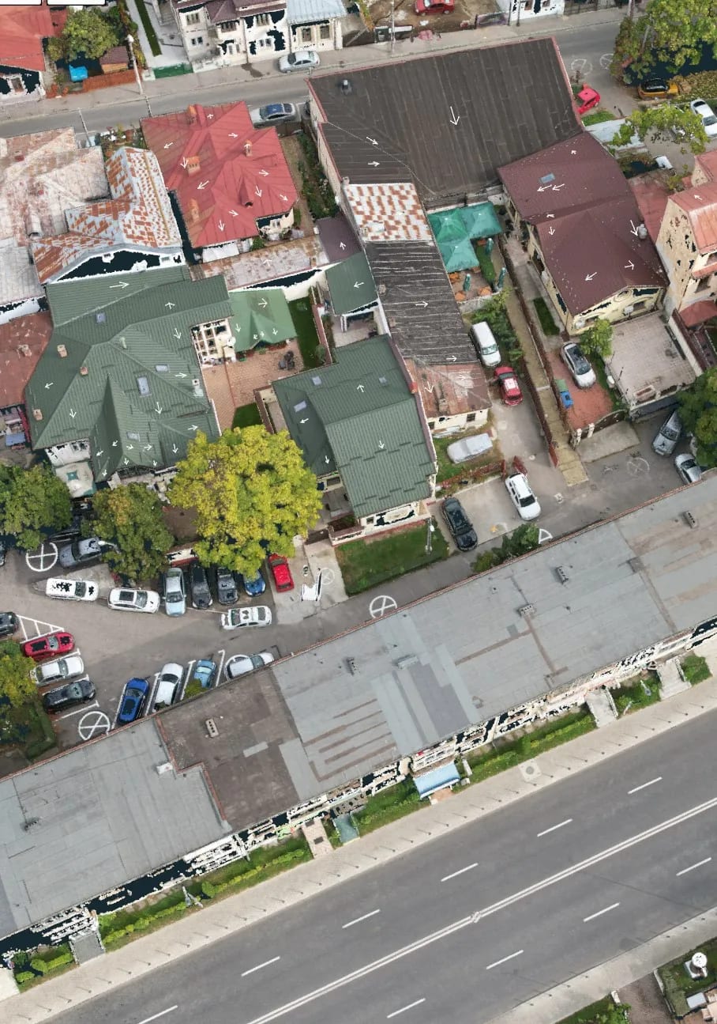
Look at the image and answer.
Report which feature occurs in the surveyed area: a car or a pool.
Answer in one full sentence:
It is a car that can be seen here.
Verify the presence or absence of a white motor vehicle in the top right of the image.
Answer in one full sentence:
Yes, a white motor vehicle appears in the top right of the image.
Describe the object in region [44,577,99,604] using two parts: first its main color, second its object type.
white car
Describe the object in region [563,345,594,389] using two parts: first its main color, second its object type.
gray car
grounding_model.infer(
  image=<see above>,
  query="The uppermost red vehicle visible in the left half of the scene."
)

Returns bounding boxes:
[270,554,293,594]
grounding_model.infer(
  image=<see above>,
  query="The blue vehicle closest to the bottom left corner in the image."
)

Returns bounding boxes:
[116,677,149,727]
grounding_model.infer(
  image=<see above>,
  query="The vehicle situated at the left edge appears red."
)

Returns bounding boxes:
[20,630,76,662]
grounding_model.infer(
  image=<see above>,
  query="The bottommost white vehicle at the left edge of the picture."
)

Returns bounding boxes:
[32,655,86,686]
